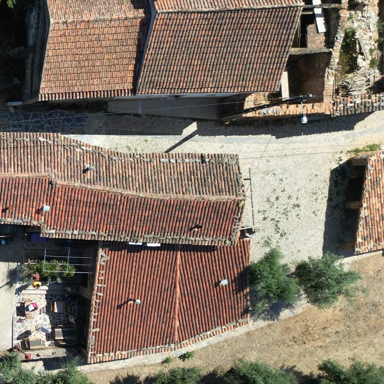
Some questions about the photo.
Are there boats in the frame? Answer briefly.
No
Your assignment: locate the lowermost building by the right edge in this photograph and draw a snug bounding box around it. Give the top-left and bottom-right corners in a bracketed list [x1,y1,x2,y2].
[335,153,384,254]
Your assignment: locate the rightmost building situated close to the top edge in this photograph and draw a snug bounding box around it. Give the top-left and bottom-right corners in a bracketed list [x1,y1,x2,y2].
[311,0,384,122]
